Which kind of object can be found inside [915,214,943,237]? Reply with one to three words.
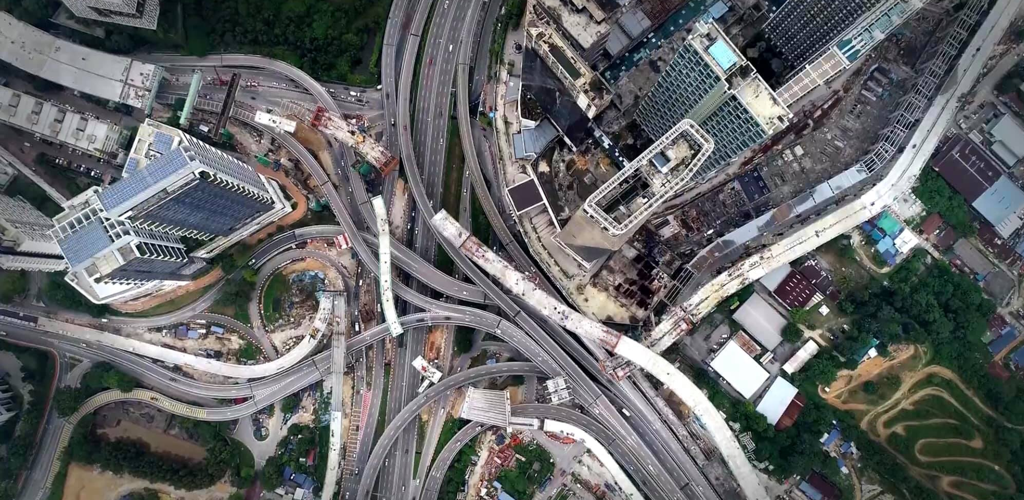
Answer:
house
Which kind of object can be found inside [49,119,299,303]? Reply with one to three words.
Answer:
building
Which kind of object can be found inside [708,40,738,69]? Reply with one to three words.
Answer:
swimming pool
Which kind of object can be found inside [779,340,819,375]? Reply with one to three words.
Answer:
shed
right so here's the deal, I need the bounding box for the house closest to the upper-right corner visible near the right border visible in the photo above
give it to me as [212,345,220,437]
[992,85,1024,117]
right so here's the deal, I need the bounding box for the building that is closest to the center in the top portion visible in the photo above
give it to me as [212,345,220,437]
[507,178,545,216]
